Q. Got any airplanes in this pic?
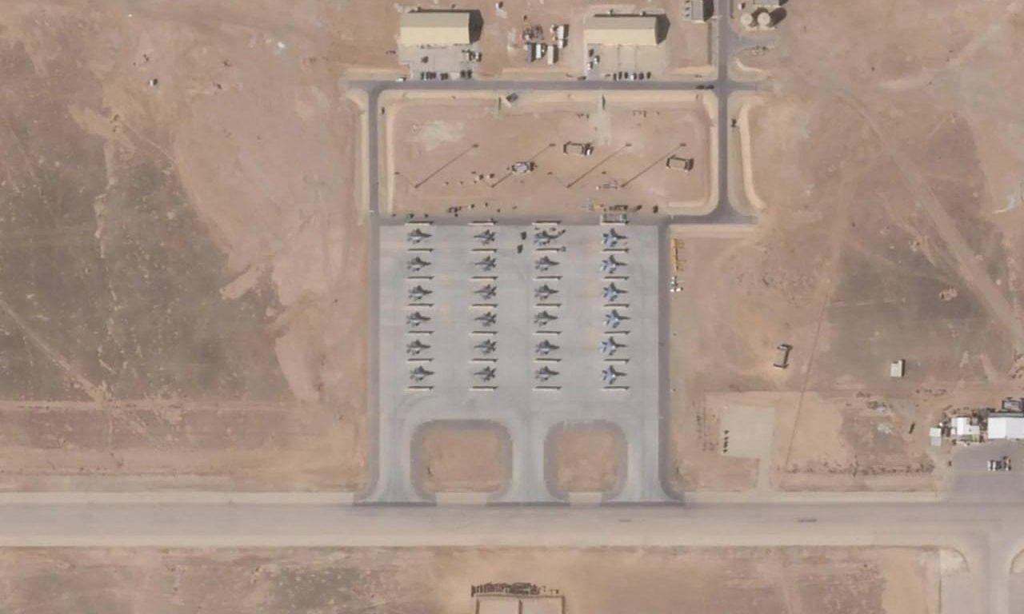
Yes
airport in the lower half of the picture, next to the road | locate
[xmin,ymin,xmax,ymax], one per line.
[0,212,1024,614]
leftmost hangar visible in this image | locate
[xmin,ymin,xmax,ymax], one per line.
[399,12,472,45]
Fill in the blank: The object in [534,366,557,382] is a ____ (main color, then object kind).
gray airplane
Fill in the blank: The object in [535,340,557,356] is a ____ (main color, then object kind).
gray airplane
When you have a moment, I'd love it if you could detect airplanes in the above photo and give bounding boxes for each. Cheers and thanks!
[406,312,429,328]
[407,257,429,272]
[408,285,430,301]
[535,256,557,272]
[600,368,625,384]
[600,258,625,274]
[600,339,624,356]
[474,257,494,272]
[533,231,556,246]
[535,340,557,356]
[475,313,494,327]
[533,311,556,327]
[406,340,429,356]
[602,285,626,301]
[473,340,493,355]
[407,229,429,245]
[534,285,556,300]
[601,230,624,247]
[473,230,492,245]
[605,312,629,328]
[473,285,493,300]
[409,366,431,382]
[474,367,493,382]
[534,366,557,382]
